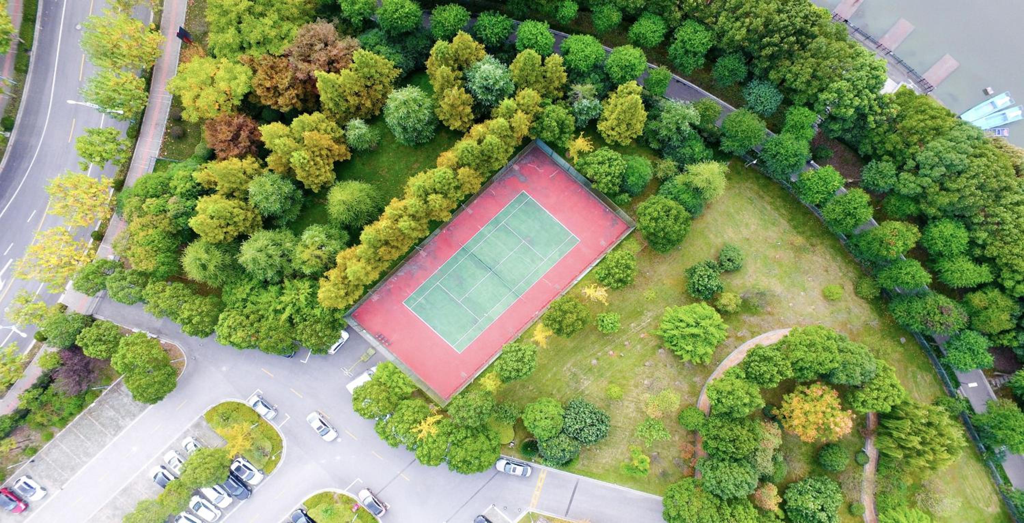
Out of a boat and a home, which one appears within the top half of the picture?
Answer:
boat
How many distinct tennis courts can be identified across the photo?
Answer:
one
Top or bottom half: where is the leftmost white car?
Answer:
bottom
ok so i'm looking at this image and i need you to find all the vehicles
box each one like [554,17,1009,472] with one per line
[182,435,211,454]
[0,488,29,514]
[177,511,202,523]
[164,449,186,474]
[473,512,494,523]
[344,363,376,396]
[189,493,223,523]
[220,474,253,503]
[13,477,48,501]
[356,487,388,521]
[329,329,352,358]
[201,487,234,510]
[495,458,533,478]
[249,394,279,421]
[306,412,338,442]
[279,345,301,365]
[232,458,264,486]
[290,508,314,523]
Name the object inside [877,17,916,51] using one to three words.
pier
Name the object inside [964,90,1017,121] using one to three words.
boat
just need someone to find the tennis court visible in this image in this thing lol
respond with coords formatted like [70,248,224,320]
[351,146,629,400]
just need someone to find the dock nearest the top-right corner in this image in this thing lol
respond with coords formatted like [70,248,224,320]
[922,53,960,88]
